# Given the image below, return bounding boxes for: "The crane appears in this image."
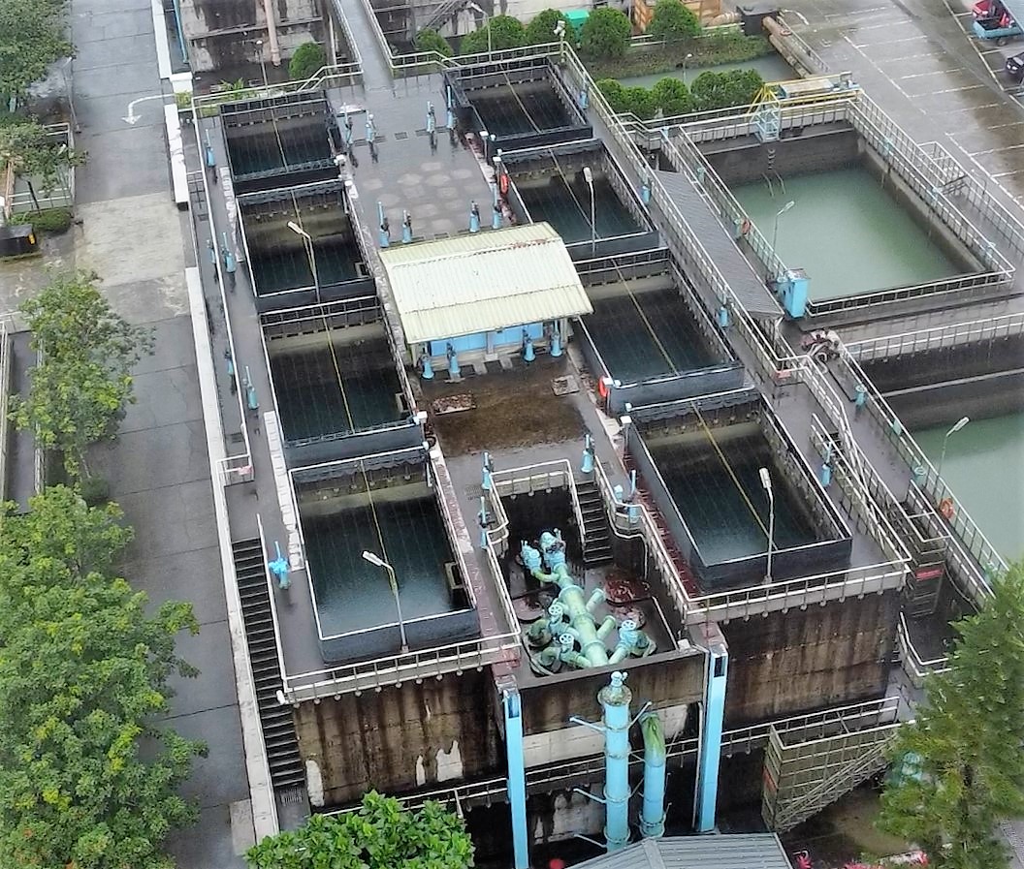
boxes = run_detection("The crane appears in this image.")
[739,73,876,139]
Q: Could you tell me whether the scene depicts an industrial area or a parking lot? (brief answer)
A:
industrial area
